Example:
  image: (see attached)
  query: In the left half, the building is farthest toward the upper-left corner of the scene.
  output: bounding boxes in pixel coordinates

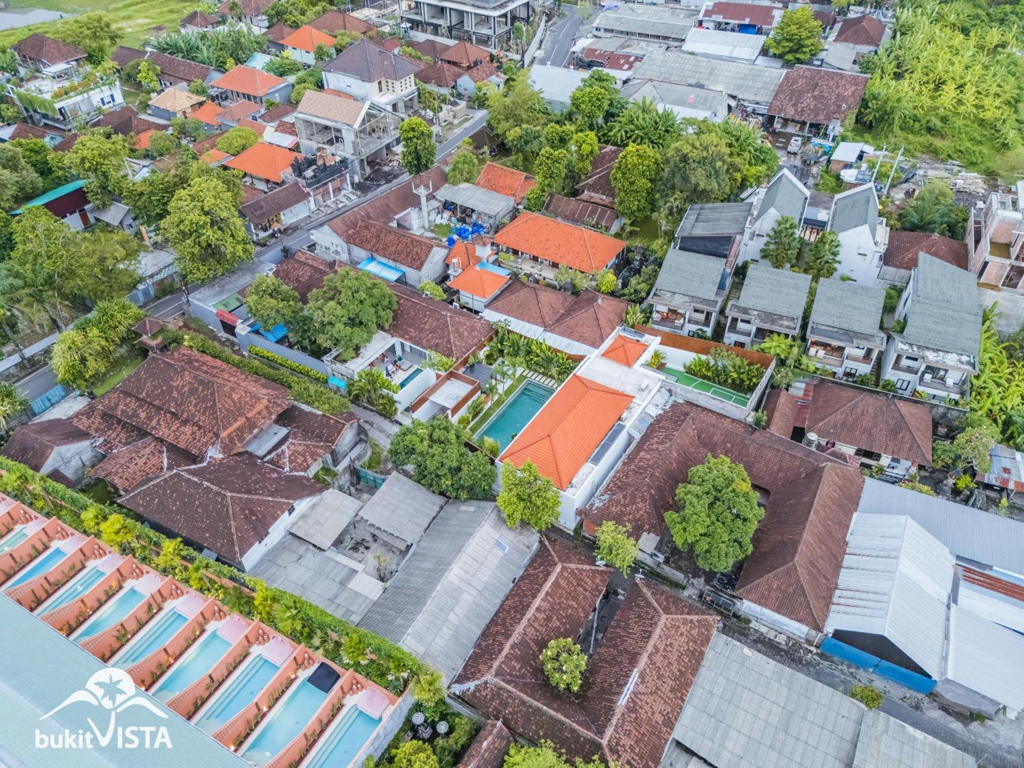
[13,32,88,79]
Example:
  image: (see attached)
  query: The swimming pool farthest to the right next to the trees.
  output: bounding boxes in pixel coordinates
[474,378,556,450]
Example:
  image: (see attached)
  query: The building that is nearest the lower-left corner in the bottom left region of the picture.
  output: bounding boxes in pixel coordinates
[0,589,262,768]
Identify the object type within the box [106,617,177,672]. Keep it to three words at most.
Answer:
swimming pool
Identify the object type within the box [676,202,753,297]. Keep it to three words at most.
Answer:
building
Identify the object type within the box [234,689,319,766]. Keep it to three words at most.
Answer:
swimming pool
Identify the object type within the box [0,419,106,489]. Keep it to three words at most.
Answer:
house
